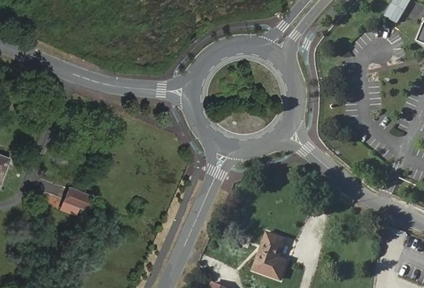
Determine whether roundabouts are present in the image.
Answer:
Yes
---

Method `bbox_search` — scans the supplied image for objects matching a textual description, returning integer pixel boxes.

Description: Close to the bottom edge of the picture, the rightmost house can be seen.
[252,230,296,284]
